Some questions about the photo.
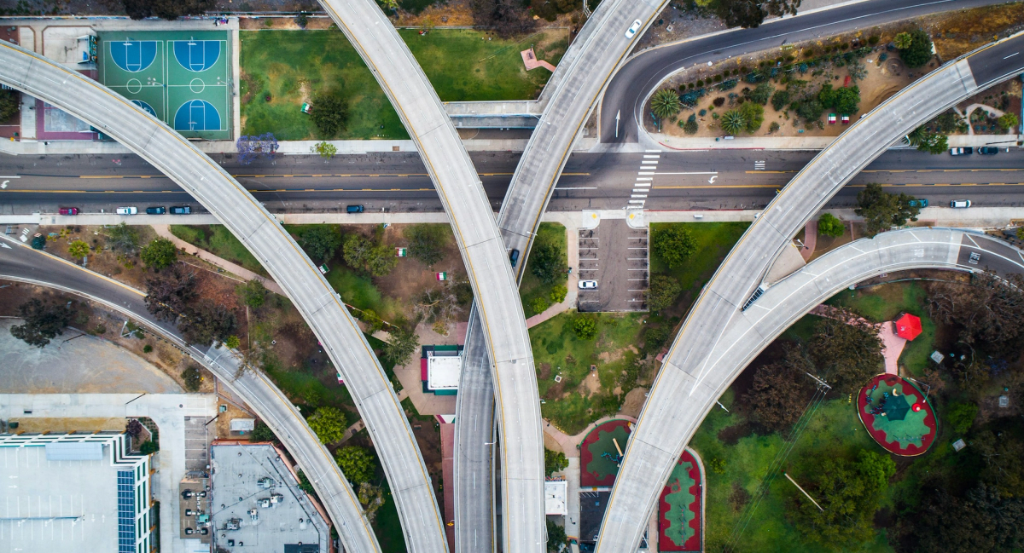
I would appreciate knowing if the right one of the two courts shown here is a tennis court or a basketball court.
basketball court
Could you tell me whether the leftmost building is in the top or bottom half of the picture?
bottom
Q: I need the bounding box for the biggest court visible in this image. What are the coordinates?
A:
[97,30,229,139]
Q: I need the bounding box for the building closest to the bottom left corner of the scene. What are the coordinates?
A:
[0,430,161,553]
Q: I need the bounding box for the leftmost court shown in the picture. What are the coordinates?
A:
[37,102,90,139]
